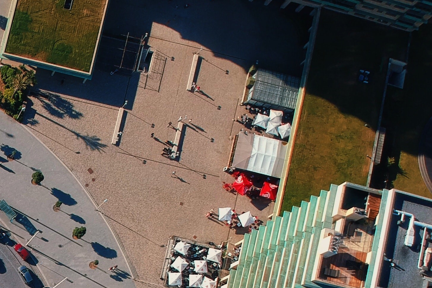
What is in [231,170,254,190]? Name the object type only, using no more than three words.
umbrella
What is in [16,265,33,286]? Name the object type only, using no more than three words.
car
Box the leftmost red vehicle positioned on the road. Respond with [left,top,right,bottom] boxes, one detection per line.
[14,243,30,262]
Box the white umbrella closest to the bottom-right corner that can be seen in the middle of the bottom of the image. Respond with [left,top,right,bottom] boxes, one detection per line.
[238,209,257,228]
